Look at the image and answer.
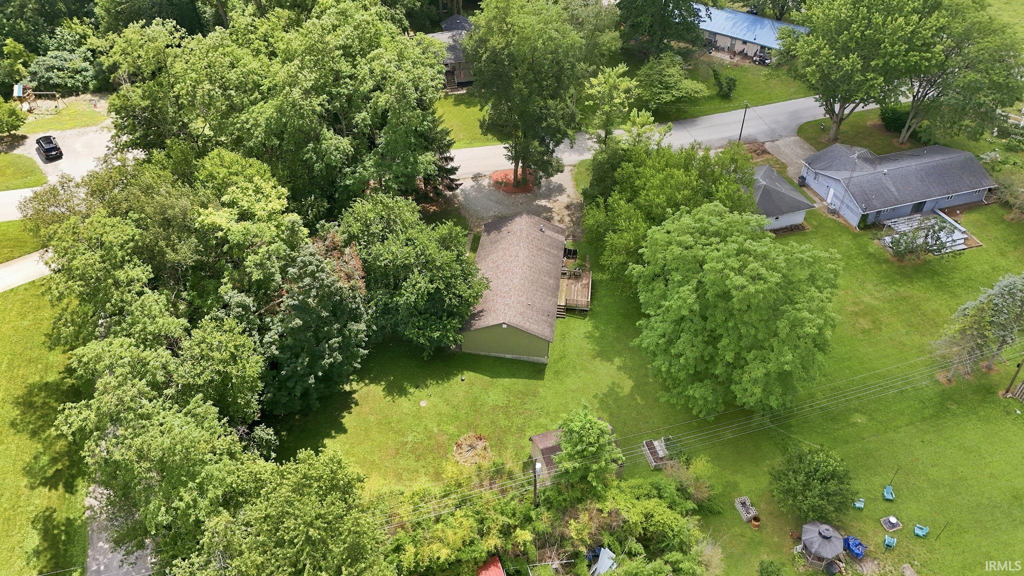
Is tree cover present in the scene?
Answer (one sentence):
Yes, some tree cover is visible.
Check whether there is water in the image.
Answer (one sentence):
No, there is no water in the image.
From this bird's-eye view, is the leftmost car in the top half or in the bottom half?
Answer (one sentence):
You can find the leftmost car in the top half.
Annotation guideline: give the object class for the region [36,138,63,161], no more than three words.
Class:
car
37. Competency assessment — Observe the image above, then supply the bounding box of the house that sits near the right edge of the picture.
[800,143,999,228]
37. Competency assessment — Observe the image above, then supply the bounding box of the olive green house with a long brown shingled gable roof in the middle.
[457,212,567,360]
